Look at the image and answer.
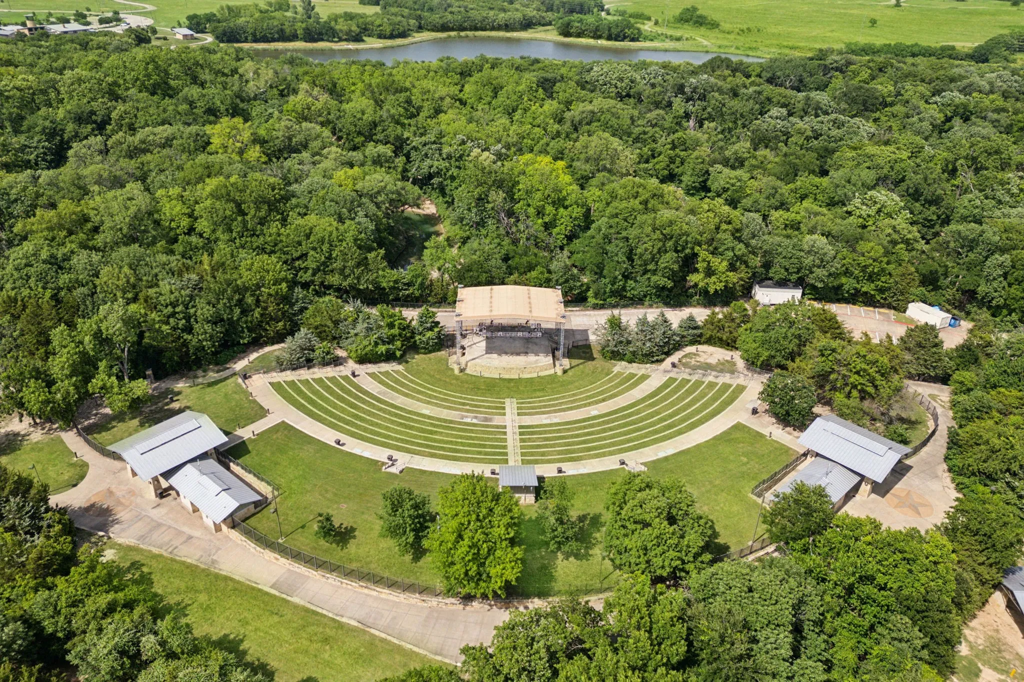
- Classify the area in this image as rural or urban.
rural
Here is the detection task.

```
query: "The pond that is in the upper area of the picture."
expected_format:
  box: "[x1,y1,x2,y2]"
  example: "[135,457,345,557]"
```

[173,36,771,83]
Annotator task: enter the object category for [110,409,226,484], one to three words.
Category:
building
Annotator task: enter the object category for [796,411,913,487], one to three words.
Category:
building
